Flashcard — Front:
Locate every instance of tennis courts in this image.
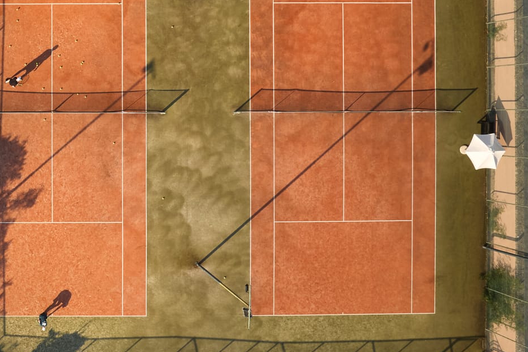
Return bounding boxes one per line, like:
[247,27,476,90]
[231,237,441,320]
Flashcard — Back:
[0,0,147,317]
[249,0,436,316]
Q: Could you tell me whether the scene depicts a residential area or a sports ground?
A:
sports ground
